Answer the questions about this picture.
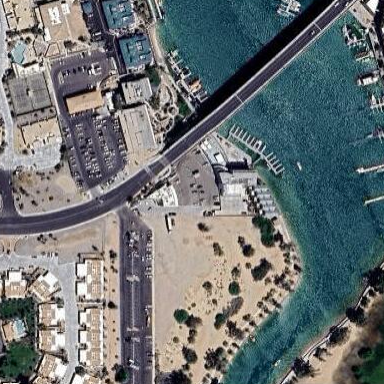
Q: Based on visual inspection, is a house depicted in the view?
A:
Yes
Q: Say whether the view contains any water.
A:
Yes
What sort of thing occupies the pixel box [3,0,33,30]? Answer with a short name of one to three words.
building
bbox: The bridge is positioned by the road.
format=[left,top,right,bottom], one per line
[152,0,357,178]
